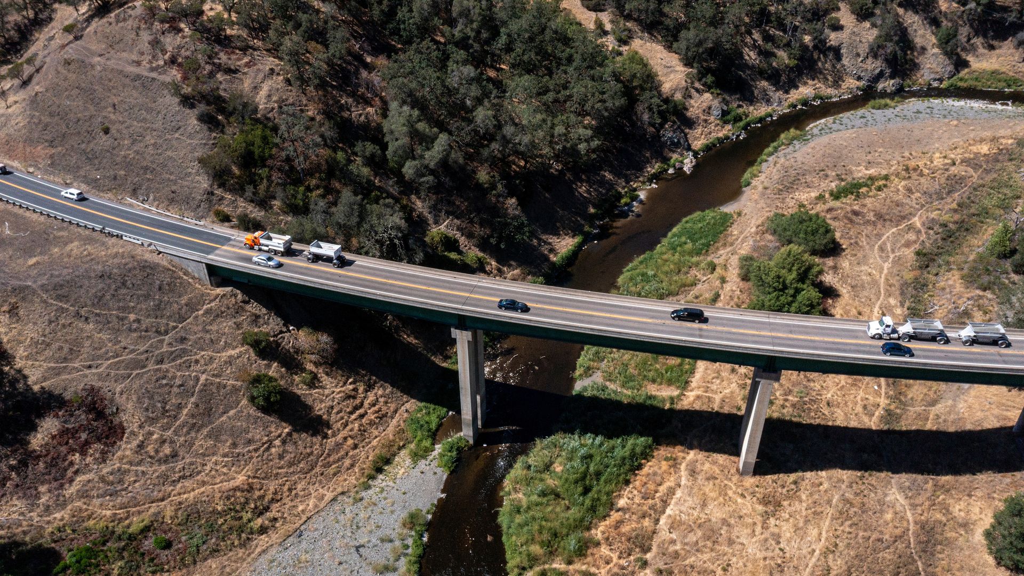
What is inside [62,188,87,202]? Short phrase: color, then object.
white car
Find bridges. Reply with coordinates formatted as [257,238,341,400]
[145,221,1024,470]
